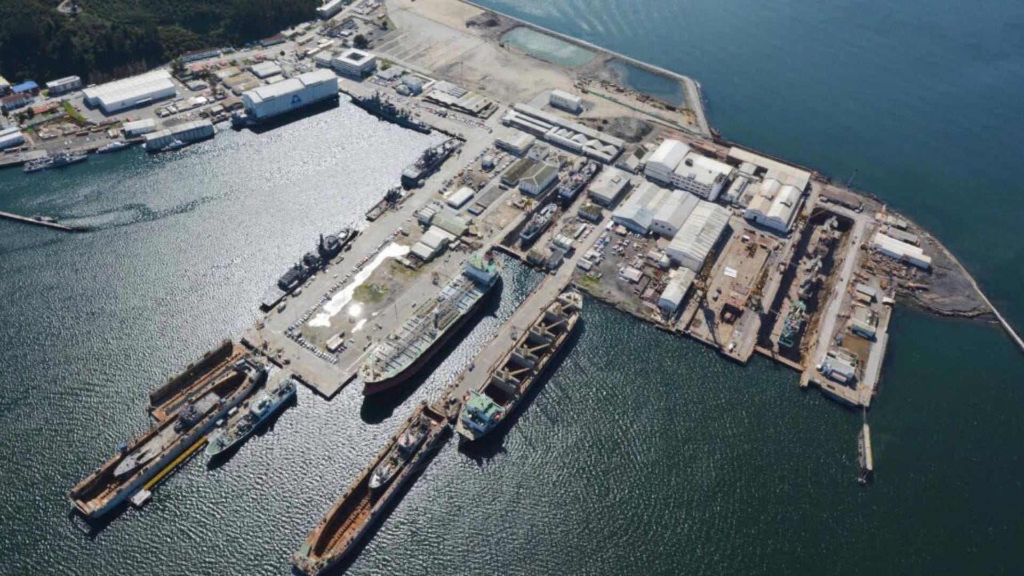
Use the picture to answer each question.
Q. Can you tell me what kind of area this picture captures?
port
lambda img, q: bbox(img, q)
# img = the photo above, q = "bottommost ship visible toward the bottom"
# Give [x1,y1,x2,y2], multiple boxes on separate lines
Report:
[130,489,155,510]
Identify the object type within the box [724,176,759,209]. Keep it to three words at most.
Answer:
shed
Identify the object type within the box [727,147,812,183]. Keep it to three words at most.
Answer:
building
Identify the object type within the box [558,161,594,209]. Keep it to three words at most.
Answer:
boat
